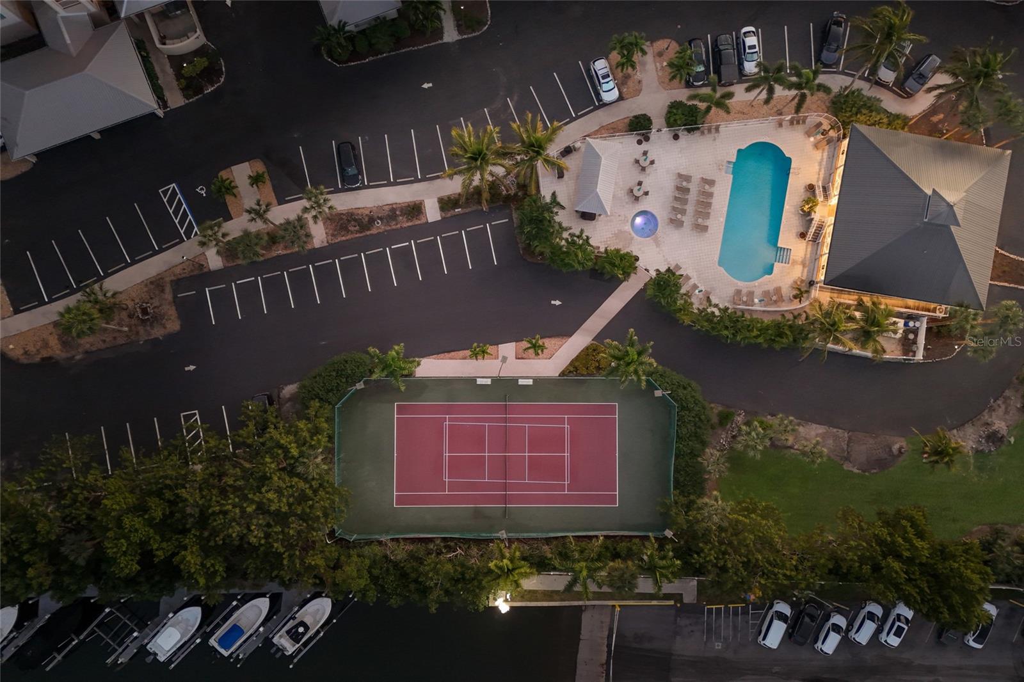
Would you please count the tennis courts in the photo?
1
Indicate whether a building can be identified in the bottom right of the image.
No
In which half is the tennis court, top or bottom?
bottom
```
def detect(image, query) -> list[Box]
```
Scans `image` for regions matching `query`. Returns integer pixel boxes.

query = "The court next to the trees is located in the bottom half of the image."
[346,382,666,533]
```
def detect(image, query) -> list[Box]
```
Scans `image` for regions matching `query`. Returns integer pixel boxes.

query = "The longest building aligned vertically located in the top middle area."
[575,139,622,216]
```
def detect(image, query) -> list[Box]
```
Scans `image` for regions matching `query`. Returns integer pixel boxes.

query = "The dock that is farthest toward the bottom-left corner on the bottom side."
[0,591,64,663]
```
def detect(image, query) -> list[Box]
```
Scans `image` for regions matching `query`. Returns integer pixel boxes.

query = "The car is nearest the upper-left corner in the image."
[336,141,361,188]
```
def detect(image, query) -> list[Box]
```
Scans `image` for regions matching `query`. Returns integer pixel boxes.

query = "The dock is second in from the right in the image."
[119,591,196,663]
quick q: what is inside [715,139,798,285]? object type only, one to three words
swimming pool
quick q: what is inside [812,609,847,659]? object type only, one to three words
car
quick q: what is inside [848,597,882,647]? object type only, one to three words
car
